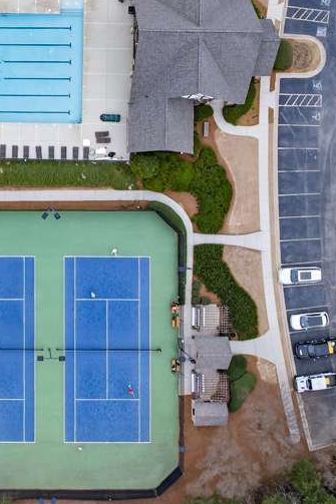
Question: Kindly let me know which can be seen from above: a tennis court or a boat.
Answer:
tennis court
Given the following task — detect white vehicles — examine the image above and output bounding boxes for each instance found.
[293,372,336,393]
[289,312,329,331]
[279,267,322,286]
